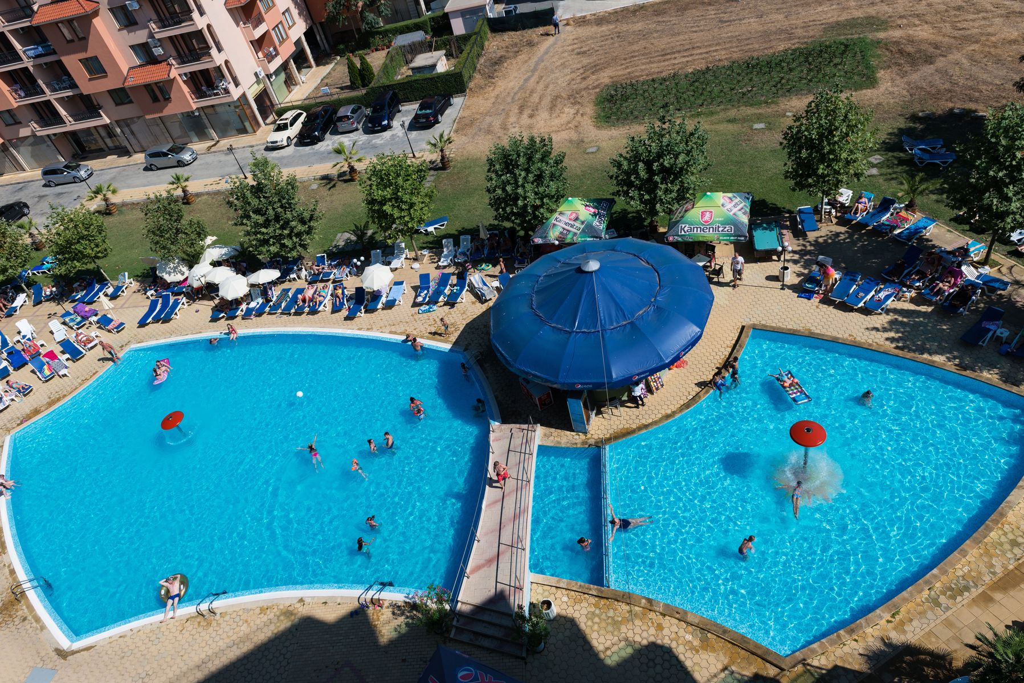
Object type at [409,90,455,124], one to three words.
car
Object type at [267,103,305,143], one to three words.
car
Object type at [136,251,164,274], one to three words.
umbrella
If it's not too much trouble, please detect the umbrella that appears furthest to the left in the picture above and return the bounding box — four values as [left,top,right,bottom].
[96,292,120,321]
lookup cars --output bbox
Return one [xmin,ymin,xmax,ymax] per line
[362,83,401,126]
[328,98,367,128]
[0,199,29,222]
[267,103,305,143]
[34,155,92,183]
[138,137,196,166]
[409,90,455,124]
[298,100,335,136]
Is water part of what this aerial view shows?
Yes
